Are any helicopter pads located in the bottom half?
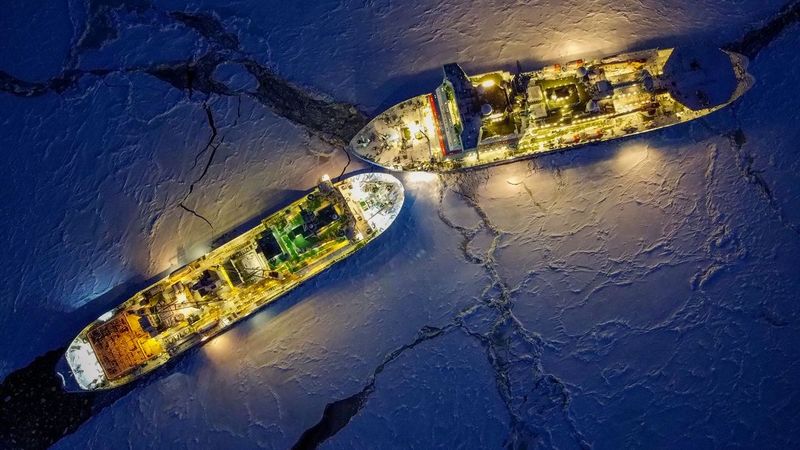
No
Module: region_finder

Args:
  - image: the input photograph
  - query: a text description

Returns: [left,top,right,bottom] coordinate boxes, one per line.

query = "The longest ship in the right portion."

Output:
[348,45,756,176]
